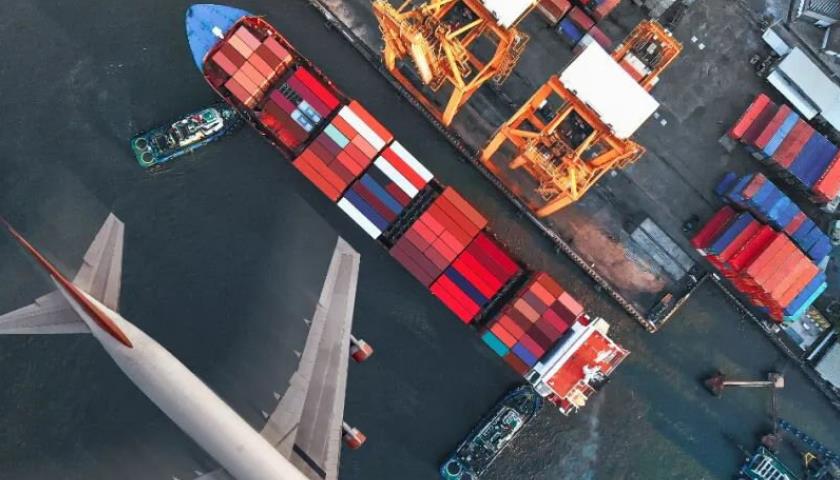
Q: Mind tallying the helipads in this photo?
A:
zero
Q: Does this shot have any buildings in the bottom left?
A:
No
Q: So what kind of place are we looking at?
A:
port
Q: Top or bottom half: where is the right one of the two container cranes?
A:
top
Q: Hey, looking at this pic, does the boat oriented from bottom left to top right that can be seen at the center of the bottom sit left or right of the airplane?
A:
to the right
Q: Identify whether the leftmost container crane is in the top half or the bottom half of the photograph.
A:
top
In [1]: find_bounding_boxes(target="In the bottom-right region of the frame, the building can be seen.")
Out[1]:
[810,336,840,391]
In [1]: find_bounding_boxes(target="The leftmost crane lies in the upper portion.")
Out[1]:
[362,0,543,130]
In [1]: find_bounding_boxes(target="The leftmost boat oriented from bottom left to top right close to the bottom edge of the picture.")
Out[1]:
[439,393,530,480]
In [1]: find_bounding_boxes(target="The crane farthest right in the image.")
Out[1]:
[475,11,687,217]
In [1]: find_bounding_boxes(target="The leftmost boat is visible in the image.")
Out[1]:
[137,112,241,168]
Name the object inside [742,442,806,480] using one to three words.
ship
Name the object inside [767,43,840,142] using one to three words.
building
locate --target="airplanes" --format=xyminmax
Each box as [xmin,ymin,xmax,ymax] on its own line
[0,210,377,480]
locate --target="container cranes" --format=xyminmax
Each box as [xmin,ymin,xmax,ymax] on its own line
[362,0,543,130]
[475,11,687,217]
